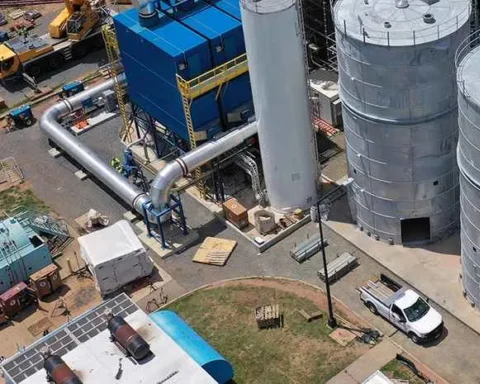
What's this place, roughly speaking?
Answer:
industrial area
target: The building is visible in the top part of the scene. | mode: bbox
[96,0,258,183]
